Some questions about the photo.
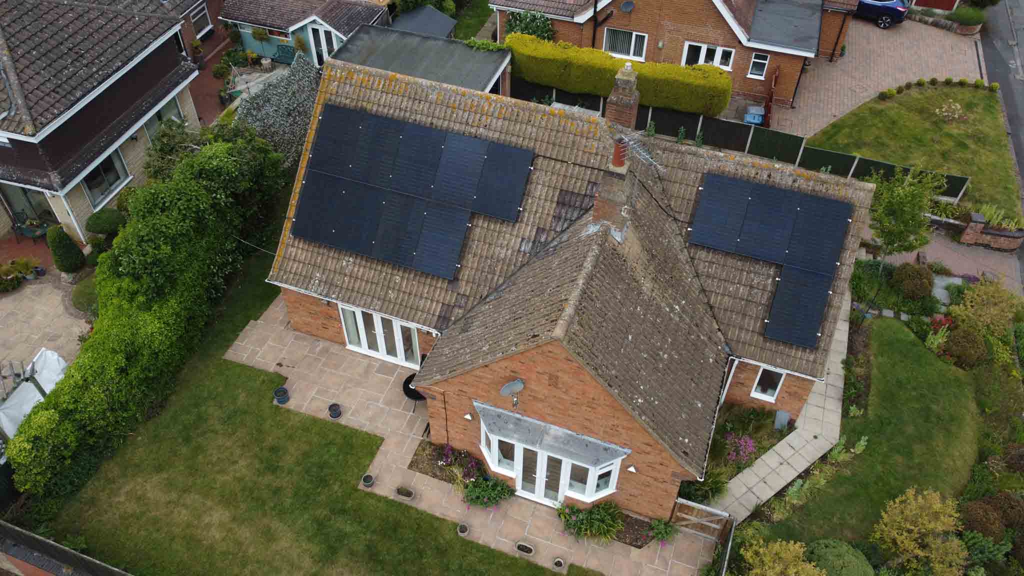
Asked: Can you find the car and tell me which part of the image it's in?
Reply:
top right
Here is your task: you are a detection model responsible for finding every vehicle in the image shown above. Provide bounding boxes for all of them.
[848,0,914,27]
